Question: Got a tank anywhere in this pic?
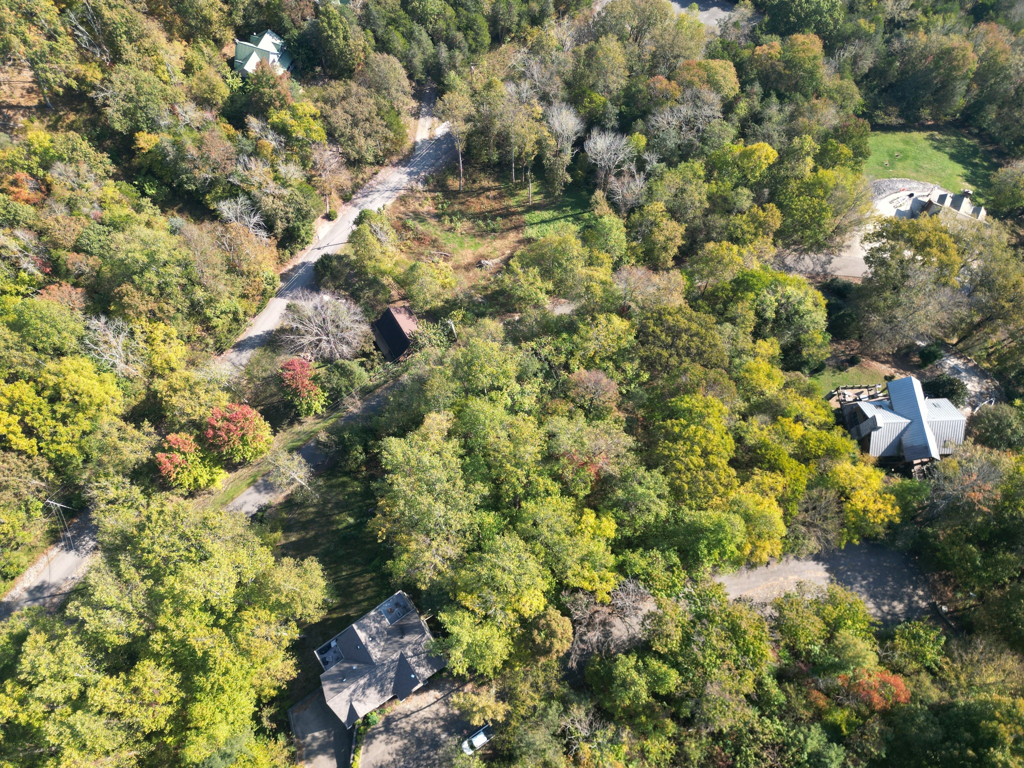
No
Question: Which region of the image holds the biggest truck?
bottom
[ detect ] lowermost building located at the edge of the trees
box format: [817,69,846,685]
[316,593,455,731]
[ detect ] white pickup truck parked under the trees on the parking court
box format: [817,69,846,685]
[463,721,500,757]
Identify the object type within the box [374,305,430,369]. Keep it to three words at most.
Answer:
barn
